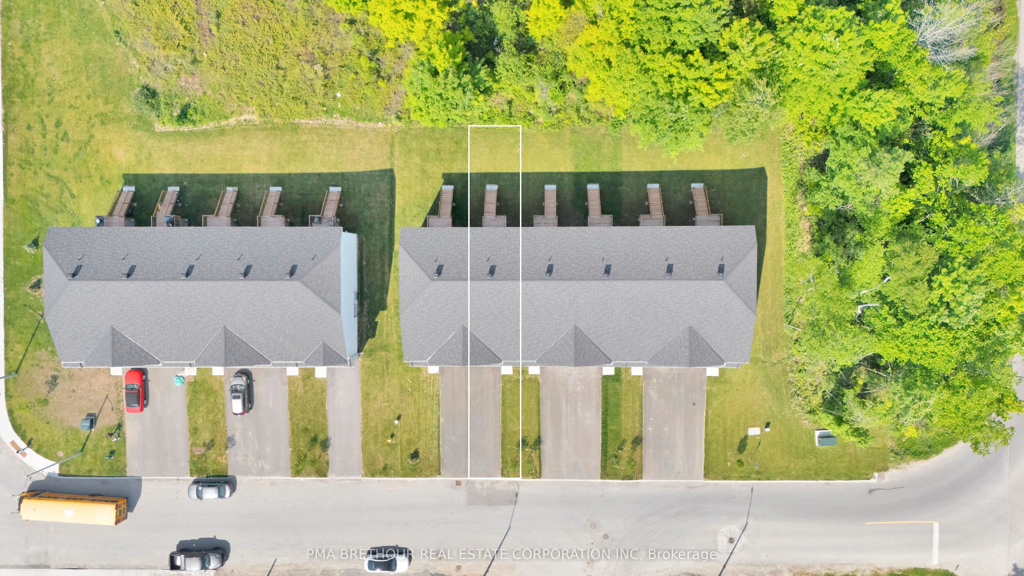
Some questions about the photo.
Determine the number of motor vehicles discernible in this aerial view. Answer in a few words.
6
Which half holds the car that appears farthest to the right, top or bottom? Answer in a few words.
bottom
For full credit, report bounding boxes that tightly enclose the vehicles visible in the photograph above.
[228,373,251,416]
[122,369,146,414]
[16,489,129,525]
[168,549,227,574]
[189,481,234,502]
[364,552,409,574]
